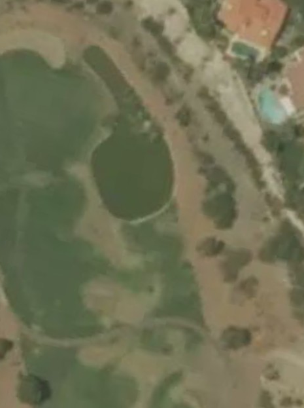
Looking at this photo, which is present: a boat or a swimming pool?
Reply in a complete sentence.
Of the two, only a swimming pool appears.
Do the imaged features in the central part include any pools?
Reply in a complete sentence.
No, there's no pool to be seen in the central part.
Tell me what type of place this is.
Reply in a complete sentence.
This image shows a golf course.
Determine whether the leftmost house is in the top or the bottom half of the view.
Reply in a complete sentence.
It is in the top half that the leftmost house appears.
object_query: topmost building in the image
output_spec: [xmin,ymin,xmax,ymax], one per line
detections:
[218,0,289,49]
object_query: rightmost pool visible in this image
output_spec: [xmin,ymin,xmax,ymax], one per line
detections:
[255,84,295,125]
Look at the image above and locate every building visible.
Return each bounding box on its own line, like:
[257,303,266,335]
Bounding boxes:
[218,0,289,49]
[282,46,304,112]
